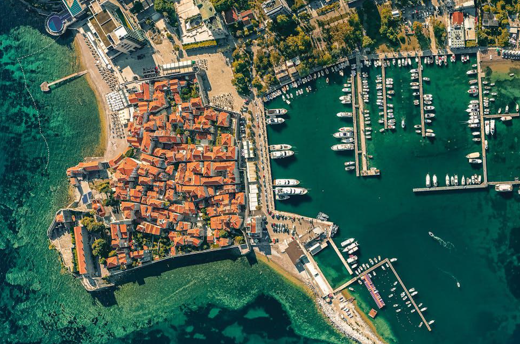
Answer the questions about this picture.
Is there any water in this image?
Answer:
Yes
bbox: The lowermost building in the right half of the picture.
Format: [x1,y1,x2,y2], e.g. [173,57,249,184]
[305,261,333,296]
